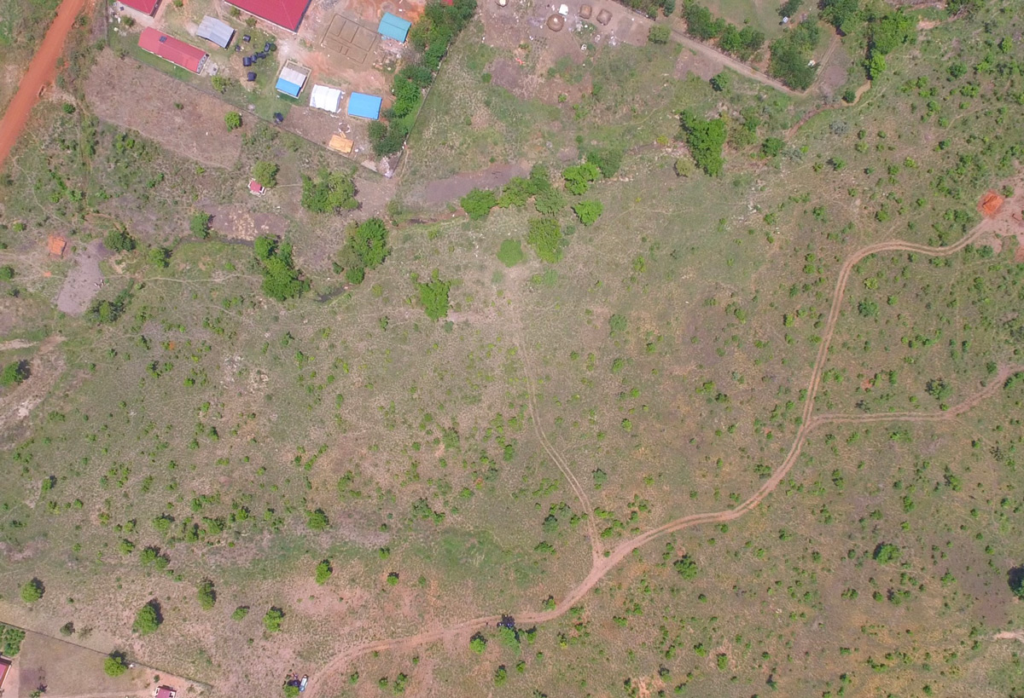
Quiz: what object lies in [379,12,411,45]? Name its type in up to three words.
shed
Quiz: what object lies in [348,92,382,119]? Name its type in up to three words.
shed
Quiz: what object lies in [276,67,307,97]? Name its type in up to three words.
house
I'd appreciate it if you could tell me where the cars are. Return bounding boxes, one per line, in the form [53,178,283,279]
[287,679,302,688]
[299,674,309,692]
